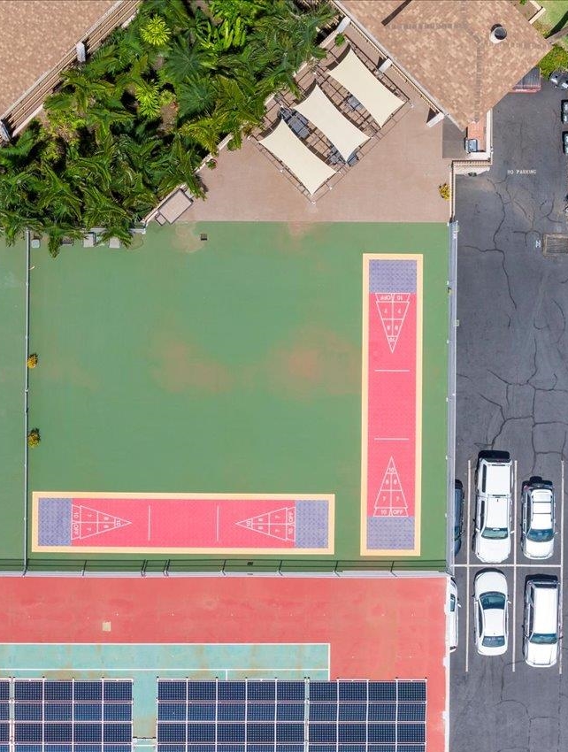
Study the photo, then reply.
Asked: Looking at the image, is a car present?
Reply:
Yes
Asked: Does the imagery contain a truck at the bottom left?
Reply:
No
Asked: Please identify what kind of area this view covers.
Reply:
sports ground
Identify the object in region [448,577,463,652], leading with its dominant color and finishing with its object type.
white car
